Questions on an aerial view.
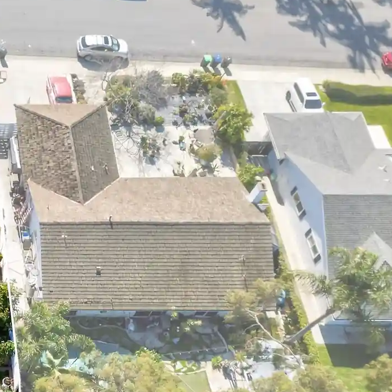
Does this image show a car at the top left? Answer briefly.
Yes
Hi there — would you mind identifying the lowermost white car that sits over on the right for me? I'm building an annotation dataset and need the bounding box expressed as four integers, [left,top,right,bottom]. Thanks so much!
[291,65,333,112]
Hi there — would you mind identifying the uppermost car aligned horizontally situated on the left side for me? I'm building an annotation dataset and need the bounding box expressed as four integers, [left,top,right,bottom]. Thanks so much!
[76,35,132,64]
